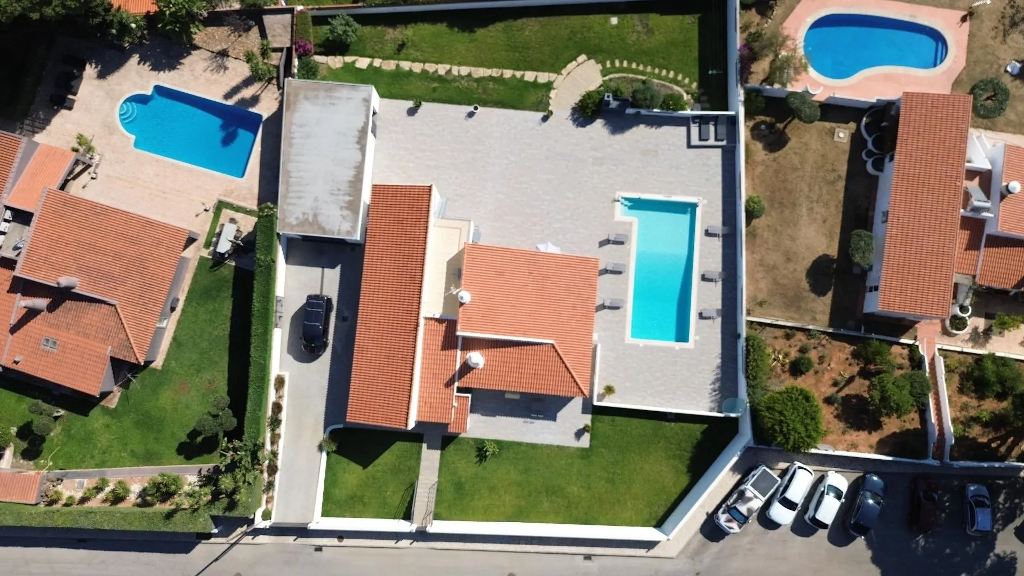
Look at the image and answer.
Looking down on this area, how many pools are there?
3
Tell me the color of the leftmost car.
black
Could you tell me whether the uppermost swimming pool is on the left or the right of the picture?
right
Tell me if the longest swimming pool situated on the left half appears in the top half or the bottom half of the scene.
top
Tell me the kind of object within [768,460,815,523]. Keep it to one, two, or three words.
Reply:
car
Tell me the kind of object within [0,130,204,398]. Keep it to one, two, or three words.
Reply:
house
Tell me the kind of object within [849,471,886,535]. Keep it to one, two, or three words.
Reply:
car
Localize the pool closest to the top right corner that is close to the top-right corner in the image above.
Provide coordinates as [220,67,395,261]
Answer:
[795,5,957,88]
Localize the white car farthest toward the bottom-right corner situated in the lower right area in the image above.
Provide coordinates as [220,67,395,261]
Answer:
[809,470,845,528]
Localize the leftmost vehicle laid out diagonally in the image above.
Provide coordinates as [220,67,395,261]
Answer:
[718,460,780,535]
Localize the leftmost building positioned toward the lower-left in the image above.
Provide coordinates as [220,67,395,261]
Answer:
[0,465,63,504]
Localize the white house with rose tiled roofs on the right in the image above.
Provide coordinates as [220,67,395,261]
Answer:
[858,92,1024,323]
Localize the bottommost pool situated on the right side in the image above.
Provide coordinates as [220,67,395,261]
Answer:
[615,190,706,348]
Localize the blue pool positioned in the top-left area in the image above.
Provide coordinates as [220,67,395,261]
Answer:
[117,83,264,179]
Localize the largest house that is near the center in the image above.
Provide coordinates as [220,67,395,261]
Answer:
[345,183,601,434]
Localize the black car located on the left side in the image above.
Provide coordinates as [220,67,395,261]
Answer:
[299,294,335,356]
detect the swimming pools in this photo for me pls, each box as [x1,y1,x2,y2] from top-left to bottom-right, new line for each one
[117,83,264,179]
[795,5,957,88]
[615,190,706,348]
